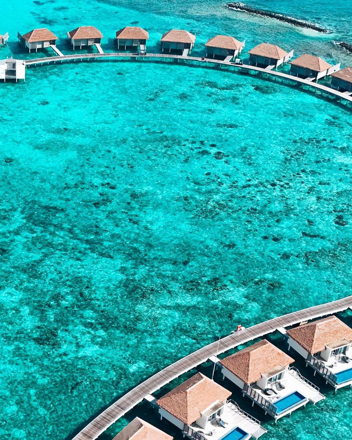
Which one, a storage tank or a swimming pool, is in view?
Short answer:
swimming pool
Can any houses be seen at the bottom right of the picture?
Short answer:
Yes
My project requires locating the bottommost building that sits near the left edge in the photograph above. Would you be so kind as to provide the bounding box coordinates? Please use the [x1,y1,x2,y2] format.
[0,55,25,89]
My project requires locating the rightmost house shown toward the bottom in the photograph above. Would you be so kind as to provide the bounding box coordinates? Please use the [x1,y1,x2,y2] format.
[285,315,352,404]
